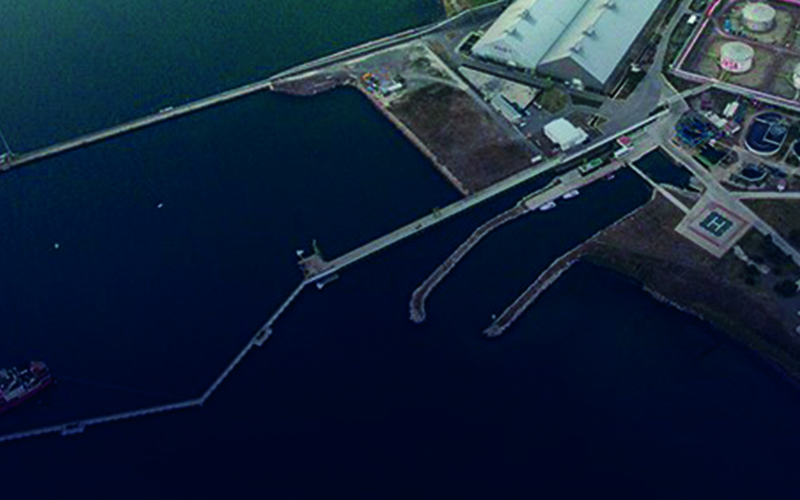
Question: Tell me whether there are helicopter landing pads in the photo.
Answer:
Yes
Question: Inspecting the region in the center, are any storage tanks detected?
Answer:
No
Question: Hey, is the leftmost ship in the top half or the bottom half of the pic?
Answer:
bottom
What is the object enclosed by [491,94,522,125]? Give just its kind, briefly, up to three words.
shed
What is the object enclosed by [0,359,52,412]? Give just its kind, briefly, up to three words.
ship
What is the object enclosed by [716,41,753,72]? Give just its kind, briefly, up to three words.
storage tank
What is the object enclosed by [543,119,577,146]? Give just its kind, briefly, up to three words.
building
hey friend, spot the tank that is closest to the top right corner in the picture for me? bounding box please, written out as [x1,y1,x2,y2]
[739,2,774,32]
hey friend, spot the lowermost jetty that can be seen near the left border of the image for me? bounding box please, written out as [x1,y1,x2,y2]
[0,280,307,445]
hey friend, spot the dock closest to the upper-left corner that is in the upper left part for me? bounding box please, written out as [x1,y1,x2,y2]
[0,78,272,173]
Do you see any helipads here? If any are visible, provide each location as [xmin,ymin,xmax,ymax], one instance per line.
[676,198,751,257]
